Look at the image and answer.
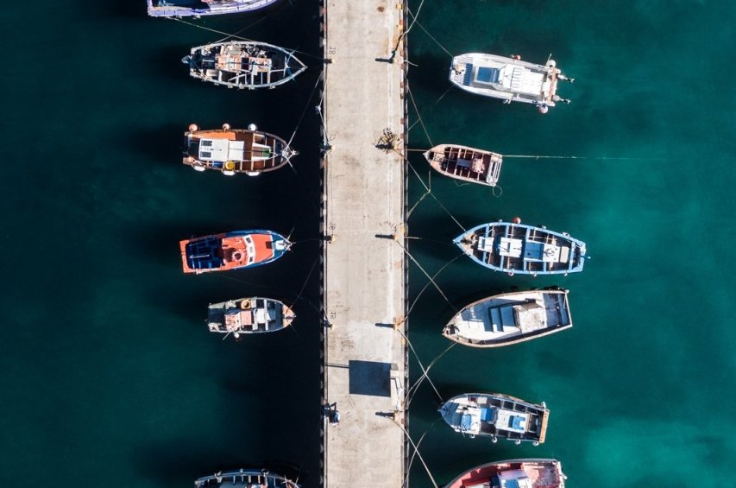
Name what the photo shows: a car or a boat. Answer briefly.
boat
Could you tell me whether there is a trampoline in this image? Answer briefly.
No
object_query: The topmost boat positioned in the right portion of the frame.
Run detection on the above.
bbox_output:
[449,53,575,112]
